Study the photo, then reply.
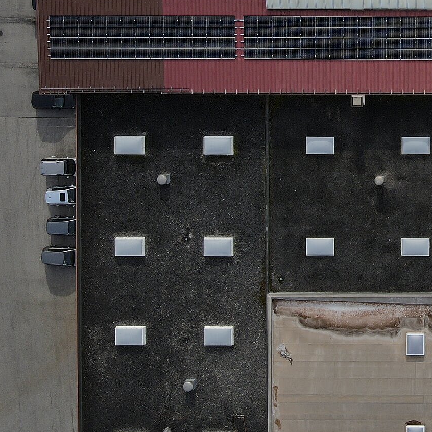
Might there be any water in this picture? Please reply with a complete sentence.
No, there is no water in the image.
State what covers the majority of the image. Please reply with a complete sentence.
The bulk of the photo consists of buildings.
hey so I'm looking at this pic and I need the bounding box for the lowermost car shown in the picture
[40,242,78,265]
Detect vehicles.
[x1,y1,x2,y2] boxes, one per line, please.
[38,153,78,179]
[27,92,78,115]
[40,242,78,265]
[44,185,78,206]
[45,214,78,235]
